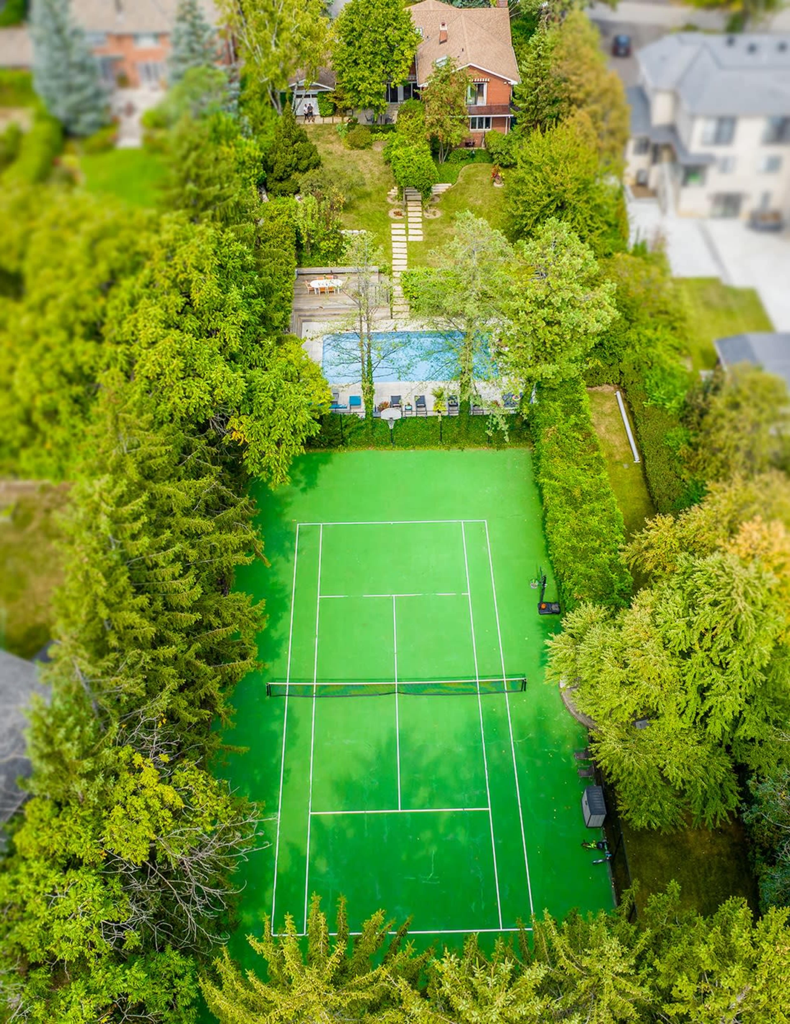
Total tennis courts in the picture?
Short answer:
one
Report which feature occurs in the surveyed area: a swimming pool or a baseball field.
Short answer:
swimming pool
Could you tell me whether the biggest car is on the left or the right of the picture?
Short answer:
right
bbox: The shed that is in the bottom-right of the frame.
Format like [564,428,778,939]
[583,785,608,827]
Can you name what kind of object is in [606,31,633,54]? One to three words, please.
car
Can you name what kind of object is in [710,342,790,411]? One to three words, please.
building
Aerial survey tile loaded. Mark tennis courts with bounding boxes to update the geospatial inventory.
[203,448,622,1002]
